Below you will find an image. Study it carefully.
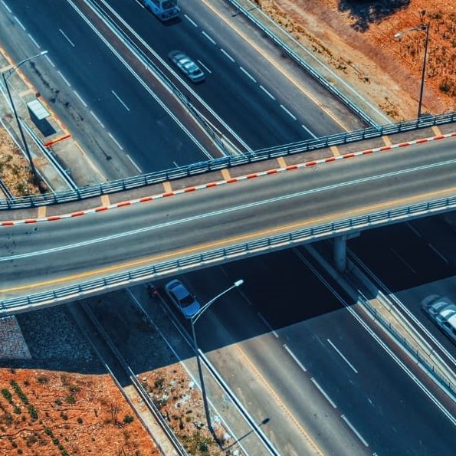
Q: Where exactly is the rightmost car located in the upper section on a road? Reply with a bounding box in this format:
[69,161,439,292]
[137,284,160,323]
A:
[171,52,204,80]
